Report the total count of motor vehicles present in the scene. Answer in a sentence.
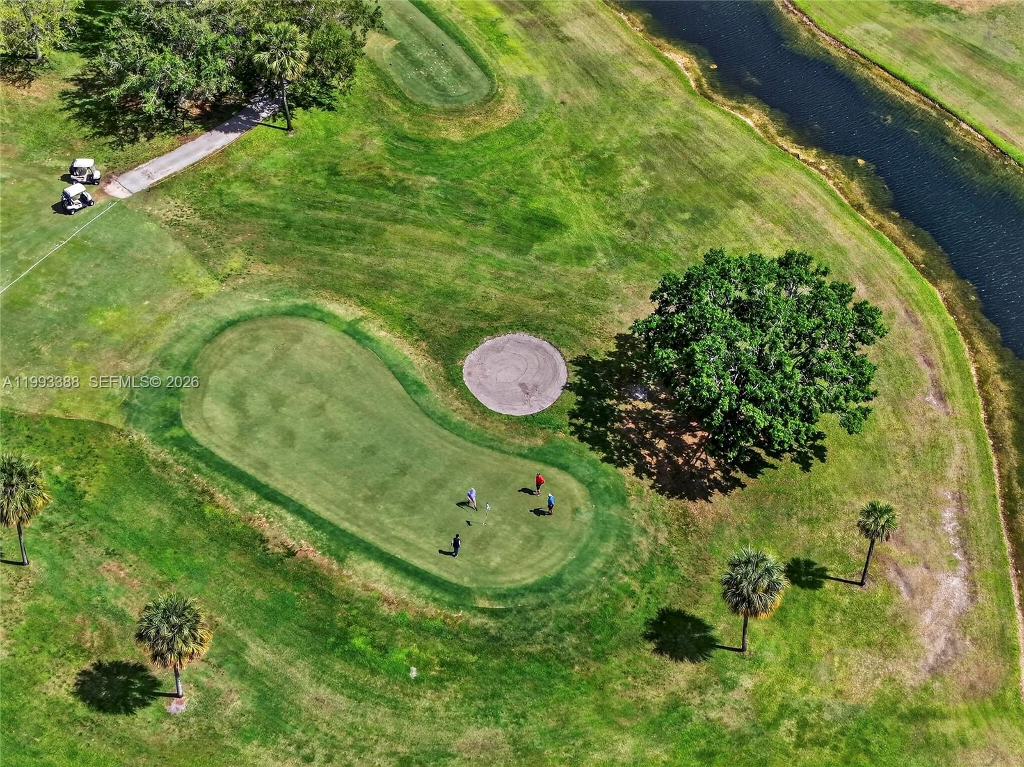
The number of motor vehicles here is 2.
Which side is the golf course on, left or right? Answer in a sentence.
It is on the left.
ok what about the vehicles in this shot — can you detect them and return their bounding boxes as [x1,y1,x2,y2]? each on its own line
[61,181,95,213]
[70,156,104,185]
